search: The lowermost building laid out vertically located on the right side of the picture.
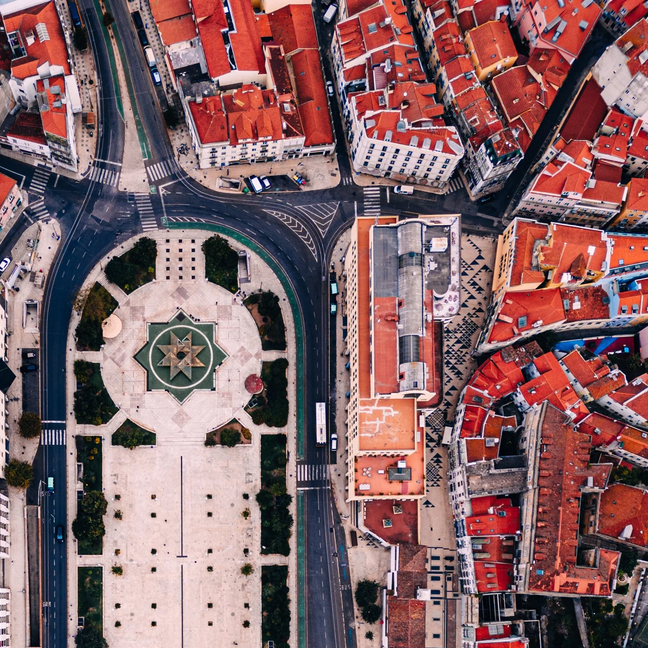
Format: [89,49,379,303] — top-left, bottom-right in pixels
[383,543,430,648]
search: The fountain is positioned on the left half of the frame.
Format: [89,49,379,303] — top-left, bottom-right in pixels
[132,308,228,404]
